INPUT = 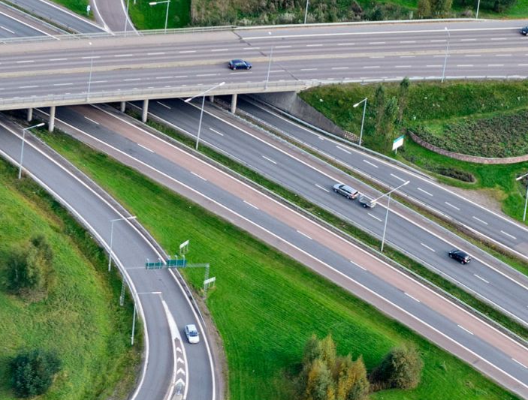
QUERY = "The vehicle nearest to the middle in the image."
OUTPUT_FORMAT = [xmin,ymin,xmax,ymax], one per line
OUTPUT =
[332,183,360,198]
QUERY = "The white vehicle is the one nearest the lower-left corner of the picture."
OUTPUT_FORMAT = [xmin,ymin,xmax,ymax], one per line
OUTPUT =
[185,324,199,344]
